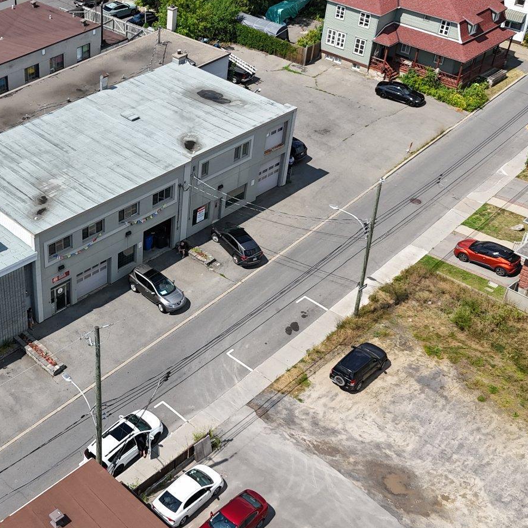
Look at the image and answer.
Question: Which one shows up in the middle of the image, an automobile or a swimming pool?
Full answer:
Looking in the middle of the image, you will find an automobile.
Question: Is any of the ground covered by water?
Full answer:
No, the scene doesn't show any water.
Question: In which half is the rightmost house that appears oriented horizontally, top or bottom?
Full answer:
The rightmost house that appears oriented horizontally sits in the top half of the picture.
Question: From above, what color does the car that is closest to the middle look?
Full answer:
The car that is closest to the middle is black.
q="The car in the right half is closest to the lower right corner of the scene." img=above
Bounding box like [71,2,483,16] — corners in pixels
[333,335,389,387]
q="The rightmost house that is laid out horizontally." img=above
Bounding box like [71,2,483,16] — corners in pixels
[318,0,520,87]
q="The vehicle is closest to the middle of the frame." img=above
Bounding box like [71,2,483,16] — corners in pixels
[211,220,268,265]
